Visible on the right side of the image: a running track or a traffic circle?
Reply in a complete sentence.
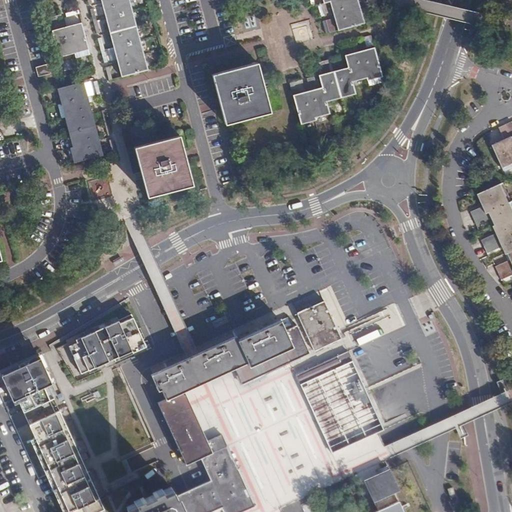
You can see a traffic circle on the right side of the image.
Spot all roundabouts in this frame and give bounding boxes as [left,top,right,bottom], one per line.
[346,148,417,217]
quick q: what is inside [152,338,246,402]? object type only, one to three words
building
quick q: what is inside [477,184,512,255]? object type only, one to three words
house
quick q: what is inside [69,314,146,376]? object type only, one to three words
building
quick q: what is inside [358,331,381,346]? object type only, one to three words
vehicle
